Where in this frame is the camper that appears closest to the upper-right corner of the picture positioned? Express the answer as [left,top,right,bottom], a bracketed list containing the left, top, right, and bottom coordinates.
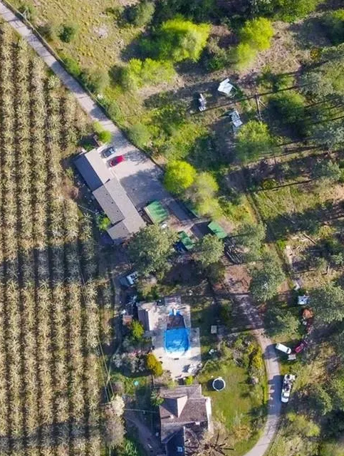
[218,79,236,96]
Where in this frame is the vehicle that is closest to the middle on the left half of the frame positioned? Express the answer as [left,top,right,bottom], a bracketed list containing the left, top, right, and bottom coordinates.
[119,272,137,287]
